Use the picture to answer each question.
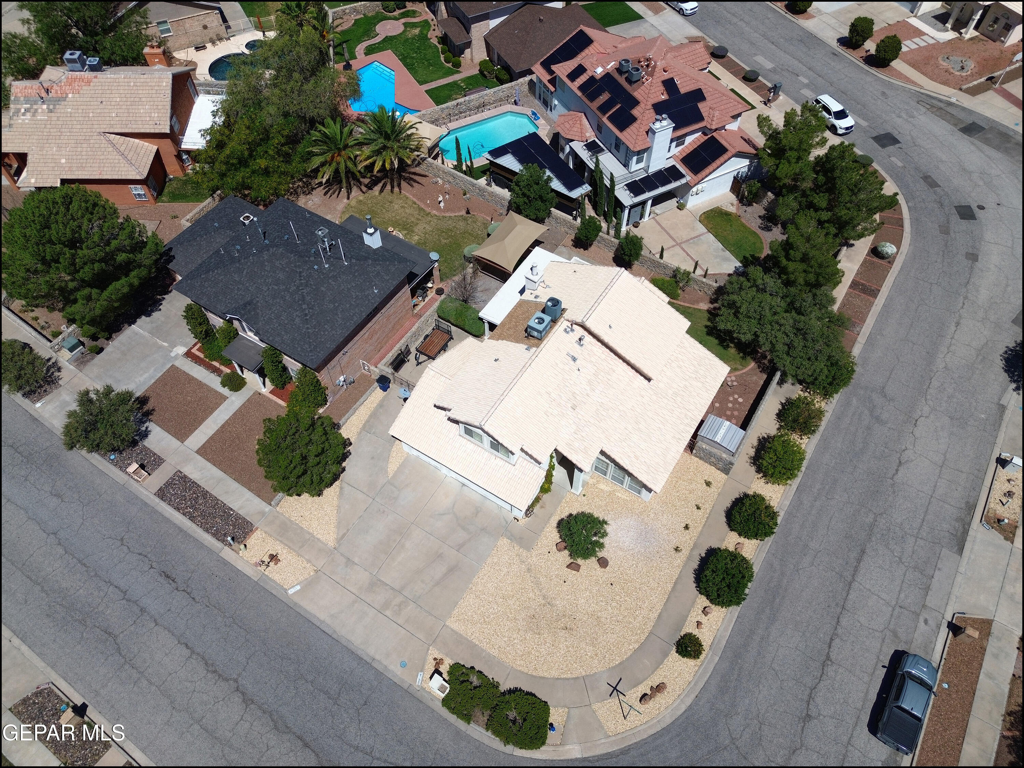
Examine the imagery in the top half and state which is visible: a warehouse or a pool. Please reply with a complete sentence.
The one visible in the top half is a pool.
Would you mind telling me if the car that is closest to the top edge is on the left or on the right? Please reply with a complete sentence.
The car that is closest to the top edge sits on the right side.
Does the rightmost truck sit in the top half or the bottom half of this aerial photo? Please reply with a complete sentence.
The rightmost truck sits in the bottom half of the picture.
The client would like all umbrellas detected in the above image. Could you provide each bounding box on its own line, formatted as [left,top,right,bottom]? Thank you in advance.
[342,52,353,70]
[512,86,522,108]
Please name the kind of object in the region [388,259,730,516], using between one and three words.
house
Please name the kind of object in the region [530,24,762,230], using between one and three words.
house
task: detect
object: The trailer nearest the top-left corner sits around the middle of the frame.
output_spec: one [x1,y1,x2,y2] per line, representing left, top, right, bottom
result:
[415,319,453,367]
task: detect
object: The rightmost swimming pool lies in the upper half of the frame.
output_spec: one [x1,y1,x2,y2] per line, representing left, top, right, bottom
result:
[436,109,542,163]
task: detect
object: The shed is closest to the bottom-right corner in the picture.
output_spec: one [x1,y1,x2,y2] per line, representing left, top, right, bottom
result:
[696,413,746,459]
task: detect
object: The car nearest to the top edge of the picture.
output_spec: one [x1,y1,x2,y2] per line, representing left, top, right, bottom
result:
[666,0,703,20]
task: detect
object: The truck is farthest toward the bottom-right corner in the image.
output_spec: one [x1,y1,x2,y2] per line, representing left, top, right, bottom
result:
[870,648,936,764]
